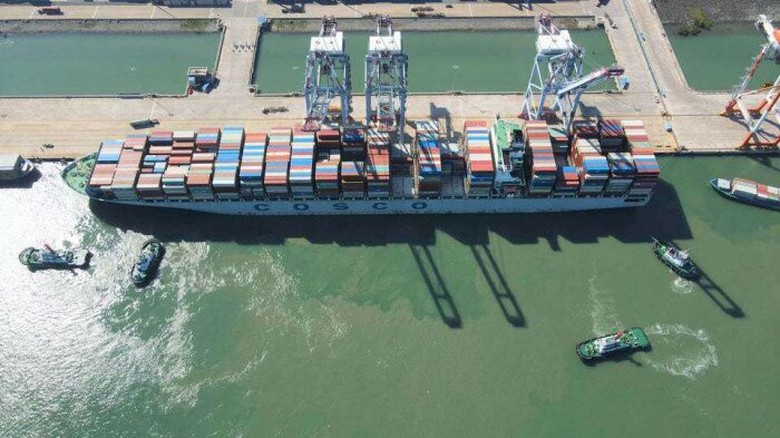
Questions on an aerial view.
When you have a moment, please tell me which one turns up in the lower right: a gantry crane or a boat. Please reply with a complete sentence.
Visible in the lower right is a boat.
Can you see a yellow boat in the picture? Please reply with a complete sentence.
No, I find no yellow boat anywhere in the image.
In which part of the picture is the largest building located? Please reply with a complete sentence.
The largest building is located in the top left region of the scene.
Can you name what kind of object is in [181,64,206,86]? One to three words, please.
building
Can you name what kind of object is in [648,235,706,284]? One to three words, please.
boat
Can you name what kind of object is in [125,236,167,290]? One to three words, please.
boat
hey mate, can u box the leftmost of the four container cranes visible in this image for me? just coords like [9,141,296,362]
[305,16,353,137]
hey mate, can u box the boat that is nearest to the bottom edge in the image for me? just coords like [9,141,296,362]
[577,321,652,361]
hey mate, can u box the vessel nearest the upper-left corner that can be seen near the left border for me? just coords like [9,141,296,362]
[0,158,35,184]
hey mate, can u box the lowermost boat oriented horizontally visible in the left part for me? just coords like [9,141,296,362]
[18,239,93,272]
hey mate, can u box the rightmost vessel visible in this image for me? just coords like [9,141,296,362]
[709,176,780,213]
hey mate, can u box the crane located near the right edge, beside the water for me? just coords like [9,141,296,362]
[724,14,780,148]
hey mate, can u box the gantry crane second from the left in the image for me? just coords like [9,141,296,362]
[361,15,411,143]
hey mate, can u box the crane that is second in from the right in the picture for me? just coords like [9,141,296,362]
[513,14,617,133]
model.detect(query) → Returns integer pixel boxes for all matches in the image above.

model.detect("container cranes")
[513,14,617,133]
[724,14,780,148]
[361,15,411,143]
[305,16,353,137]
